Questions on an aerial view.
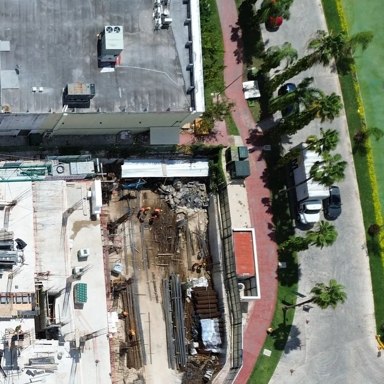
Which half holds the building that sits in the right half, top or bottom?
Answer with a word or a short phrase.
bottom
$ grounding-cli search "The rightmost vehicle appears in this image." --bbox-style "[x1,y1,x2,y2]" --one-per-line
[323,188,342,221]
